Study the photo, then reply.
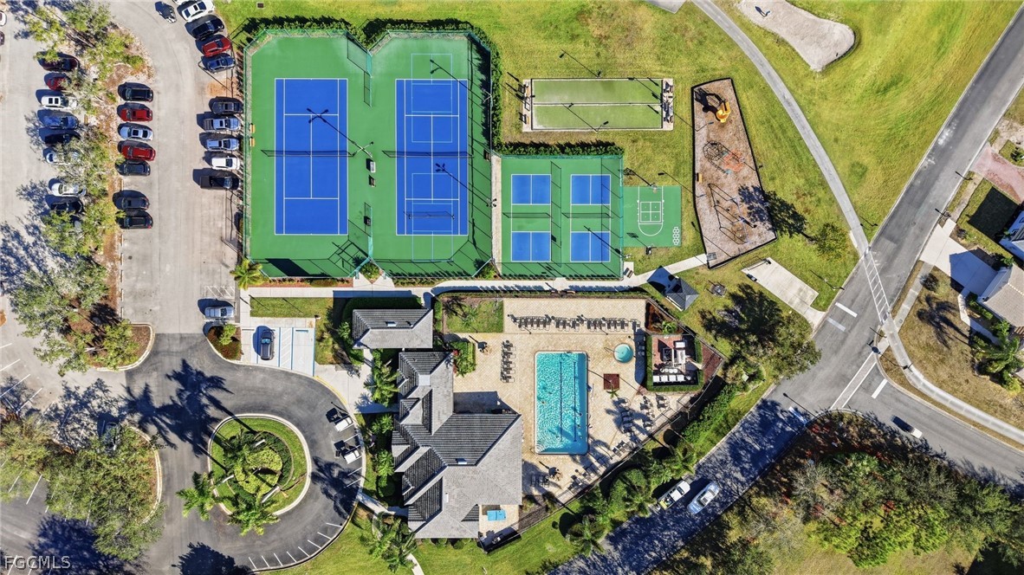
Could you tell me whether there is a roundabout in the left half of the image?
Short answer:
Yes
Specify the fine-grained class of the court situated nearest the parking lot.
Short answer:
tennis court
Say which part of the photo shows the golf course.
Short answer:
top right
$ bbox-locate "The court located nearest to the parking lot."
[251,37,371,277]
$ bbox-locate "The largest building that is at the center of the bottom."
[392,352,522,539]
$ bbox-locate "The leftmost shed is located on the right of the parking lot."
[352,309,433,349]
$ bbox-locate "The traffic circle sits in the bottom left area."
[207,413,312,526]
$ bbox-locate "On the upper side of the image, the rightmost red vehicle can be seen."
[200,37,234,56]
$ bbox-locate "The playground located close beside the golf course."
[691,77,777,268]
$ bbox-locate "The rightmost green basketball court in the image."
[623,186,682,247]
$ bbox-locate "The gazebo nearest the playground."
[660,276,701,312]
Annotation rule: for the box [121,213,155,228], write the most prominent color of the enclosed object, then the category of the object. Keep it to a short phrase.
black car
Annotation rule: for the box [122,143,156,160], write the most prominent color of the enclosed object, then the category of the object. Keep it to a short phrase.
red car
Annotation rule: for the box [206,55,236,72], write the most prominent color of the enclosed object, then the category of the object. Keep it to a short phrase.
blue car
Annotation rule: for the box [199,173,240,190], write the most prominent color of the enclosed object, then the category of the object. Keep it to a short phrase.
black vehicle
